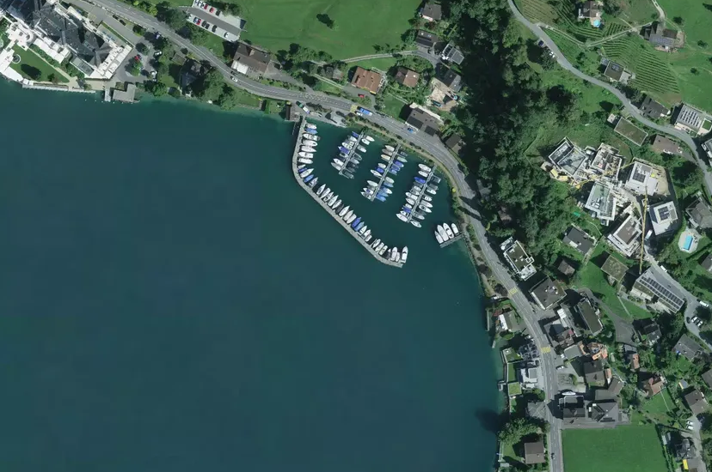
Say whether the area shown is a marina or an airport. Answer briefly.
marina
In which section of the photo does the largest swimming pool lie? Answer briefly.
right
